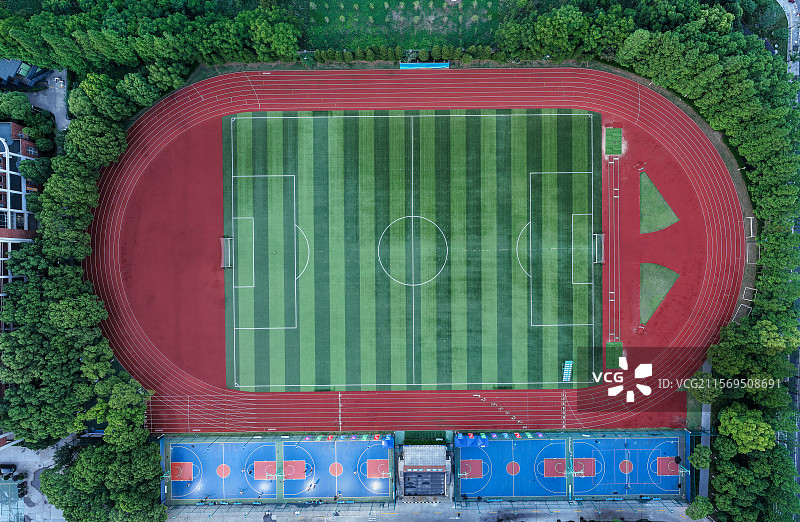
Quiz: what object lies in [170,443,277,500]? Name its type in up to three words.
basketball court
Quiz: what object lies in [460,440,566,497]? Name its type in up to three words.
basketball court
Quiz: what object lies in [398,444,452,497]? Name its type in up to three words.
building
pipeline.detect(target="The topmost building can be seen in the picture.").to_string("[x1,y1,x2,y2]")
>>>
[0,57,62,93]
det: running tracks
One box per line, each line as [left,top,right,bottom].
[80,68,745,434]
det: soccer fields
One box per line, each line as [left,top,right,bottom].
[221,109,605,392]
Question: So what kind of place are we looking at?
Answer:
sports ground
